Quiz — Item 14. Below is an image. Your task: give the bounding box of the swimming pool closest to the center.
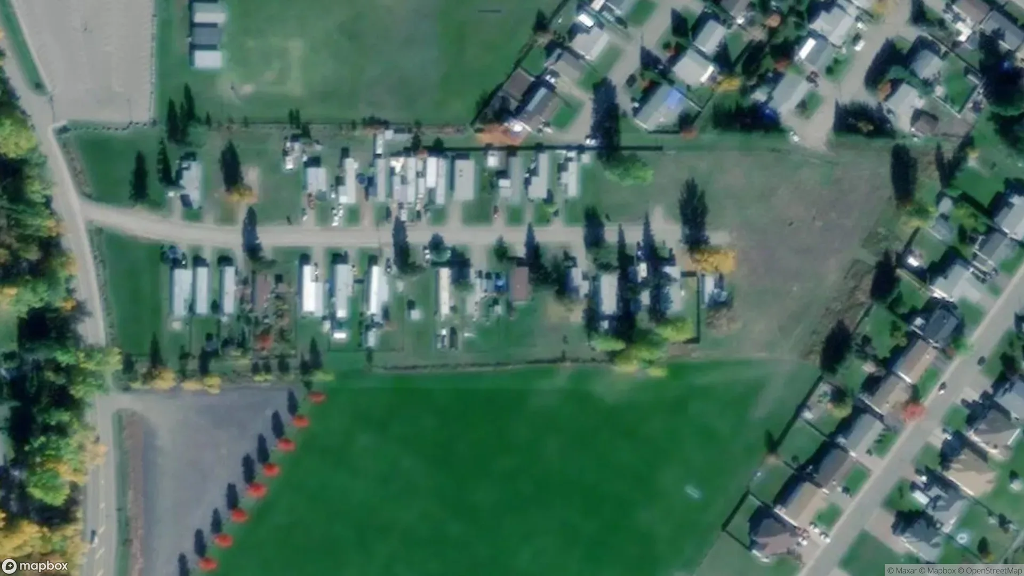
[430,244,450,263]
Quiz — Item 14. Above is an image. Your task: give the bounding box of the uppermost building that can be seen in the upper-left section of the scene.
[190,2,224,24]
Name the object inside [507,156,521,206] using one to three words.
house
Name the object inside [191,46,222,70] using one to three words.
building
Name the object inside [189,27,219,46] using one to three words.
building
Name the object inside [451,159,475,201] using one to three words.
house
